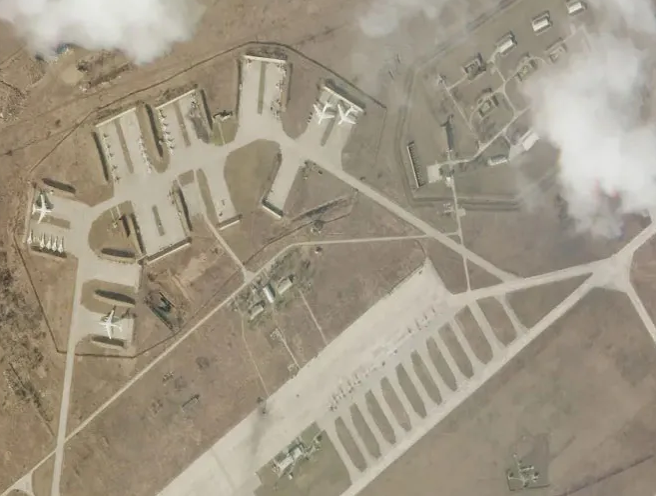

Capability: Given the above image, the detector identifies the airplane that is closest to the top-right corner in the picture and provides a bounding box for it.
[338,103,357,124]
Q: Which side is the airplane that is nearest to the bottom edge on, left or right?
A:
left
